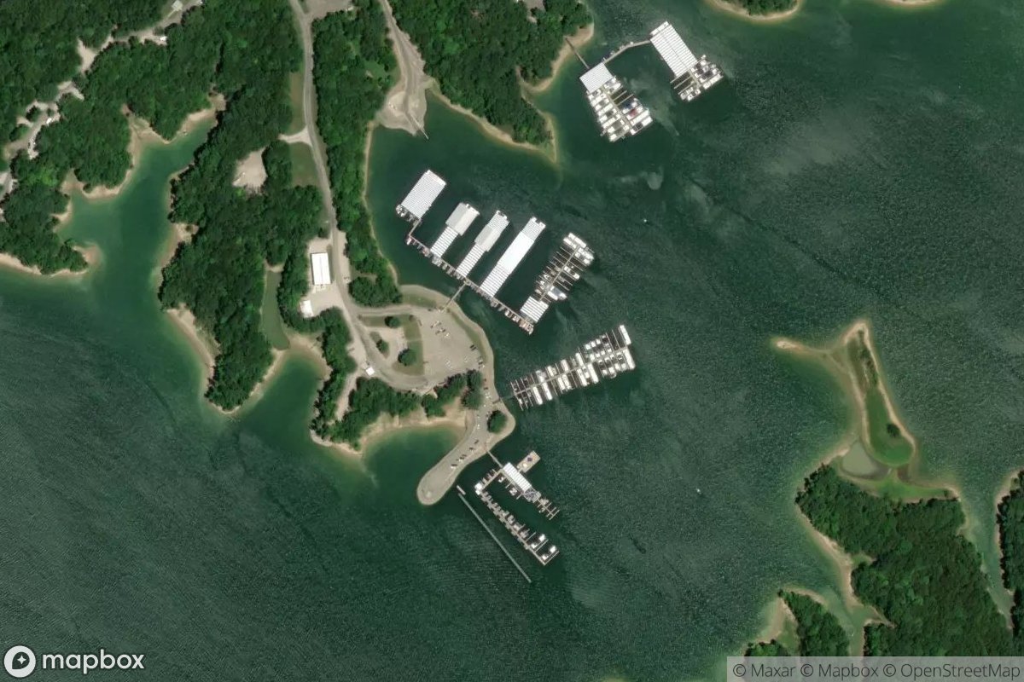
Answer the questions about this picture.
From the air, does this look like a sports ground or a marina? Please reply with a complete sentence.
This looks like a marina.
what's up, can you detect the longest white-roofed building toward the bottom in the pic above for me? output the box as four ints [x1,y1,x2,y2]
[503,461,541,503]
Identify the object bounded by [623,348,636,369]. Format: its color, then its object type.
white boat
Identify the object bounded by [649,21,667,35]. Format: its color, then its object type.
white boat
